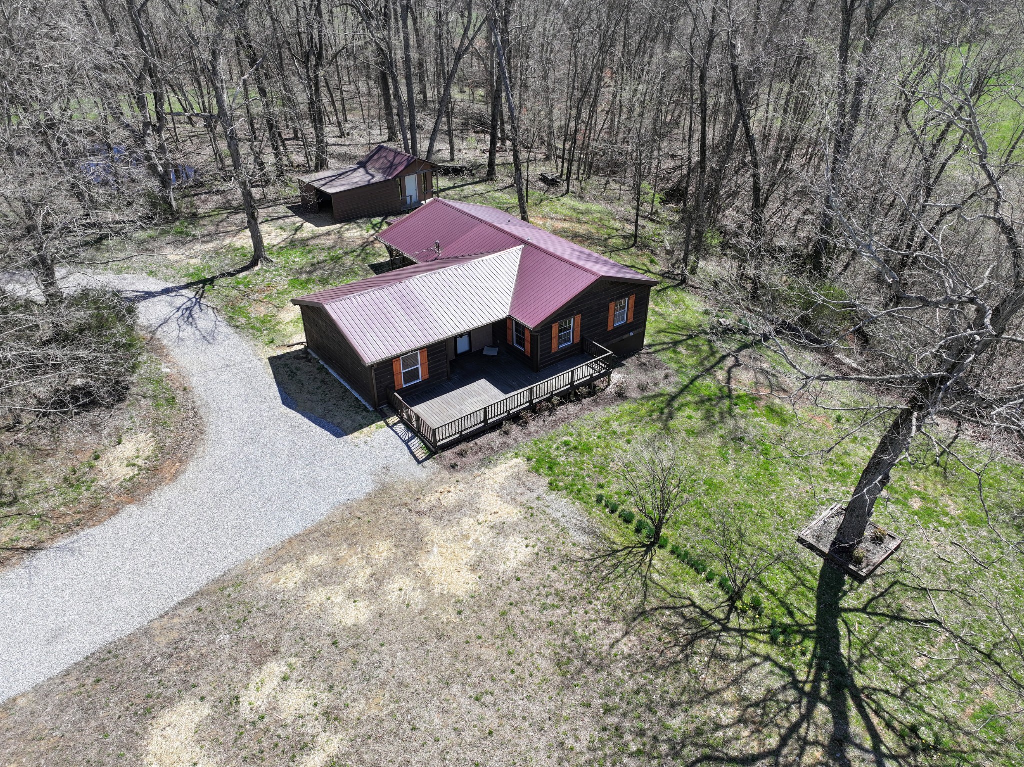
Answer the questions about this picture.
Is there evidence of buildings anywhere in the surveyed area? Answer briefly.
Yes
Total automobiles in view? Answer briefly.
0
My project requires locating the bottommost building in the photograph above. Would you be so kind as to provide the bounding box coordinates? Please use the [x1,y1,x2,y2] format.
[291,198,661,417]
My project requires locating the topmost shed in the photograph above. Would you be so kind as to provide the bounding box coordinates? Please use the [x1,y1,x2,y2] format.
[301,144,442,224]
